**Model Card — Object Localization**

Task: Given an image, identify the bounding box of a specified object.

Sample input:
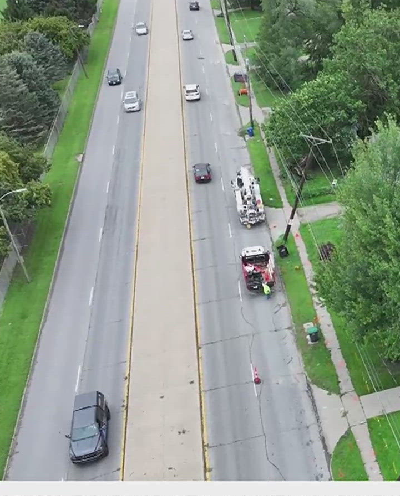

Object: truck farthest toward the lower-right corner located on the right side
[238,245,272,291]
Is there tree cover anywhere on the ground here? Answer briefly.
Yes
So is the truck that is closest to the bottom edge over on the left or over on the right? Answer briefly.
left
